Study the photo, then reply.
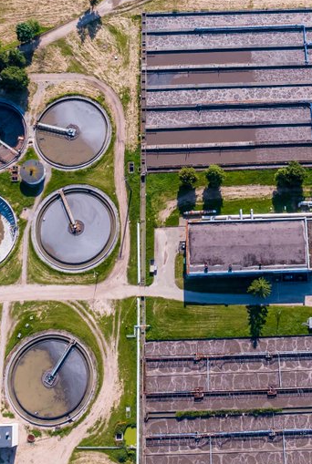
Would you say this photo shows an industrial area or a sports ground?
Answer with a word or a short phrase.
industrial area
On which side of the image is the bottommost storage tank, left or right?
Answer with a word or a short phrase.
left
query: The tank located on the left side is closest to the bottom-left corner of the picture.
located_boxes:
[4,330,97,429]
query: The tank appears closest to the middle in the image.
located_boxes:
[31,184,120,273]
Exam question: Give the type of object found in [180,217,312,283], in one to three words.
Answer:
building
